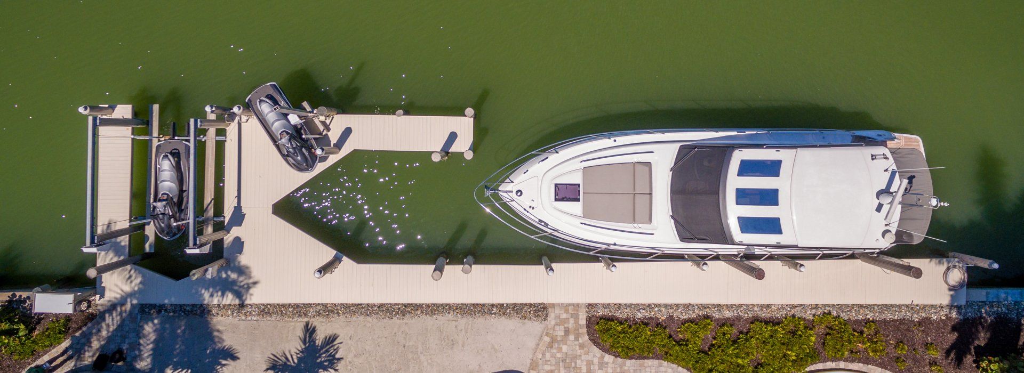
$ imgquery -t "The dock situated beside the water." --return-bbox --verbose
[97,105,966,304]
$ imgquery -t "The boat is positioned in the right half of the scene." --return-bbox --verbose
[474,127,949,261]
